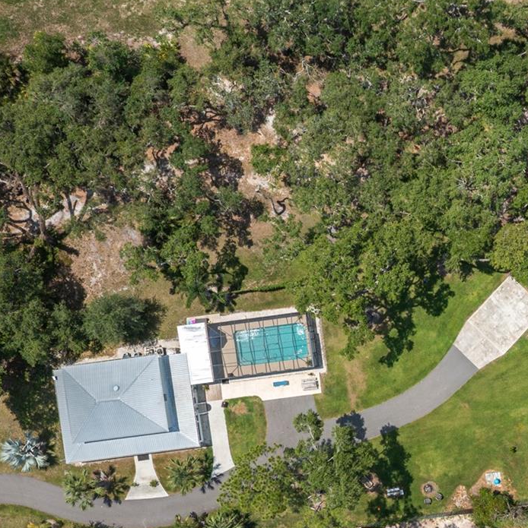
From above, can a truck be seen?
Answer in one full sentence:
No, the picture doesn't show any truck.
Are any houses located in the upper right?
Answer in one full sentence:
No, there's no house to be seen in the upper right.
